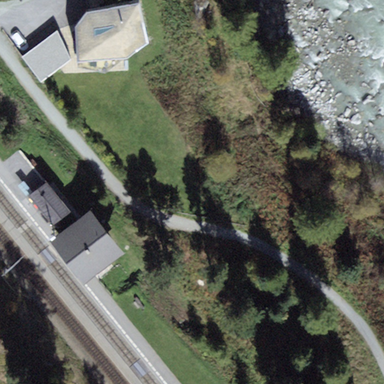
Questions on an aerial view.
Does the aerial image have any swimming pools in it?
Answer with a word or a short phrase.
No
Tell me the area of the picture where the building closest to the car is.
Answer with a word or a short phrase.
top left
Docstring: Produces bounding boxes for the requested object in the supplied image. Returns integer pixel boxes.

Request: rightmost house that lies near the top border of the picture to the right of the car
[76,0,148,70]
